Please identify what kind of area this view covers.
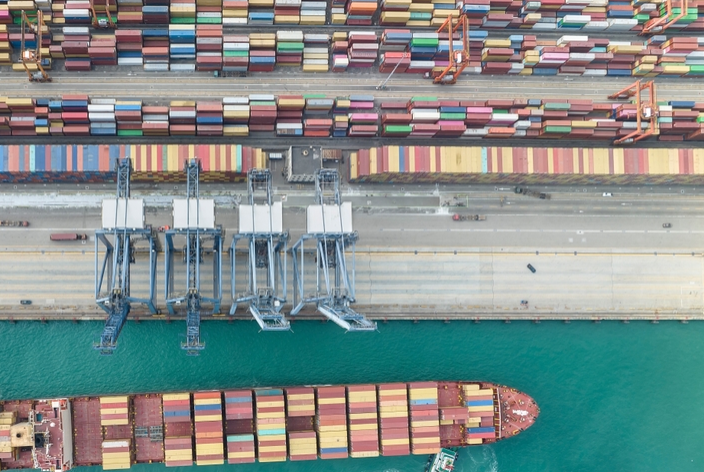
port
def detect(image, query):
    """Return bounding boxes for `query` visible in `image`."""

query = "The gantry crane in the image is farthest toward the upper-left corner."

[20,10,54,79]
